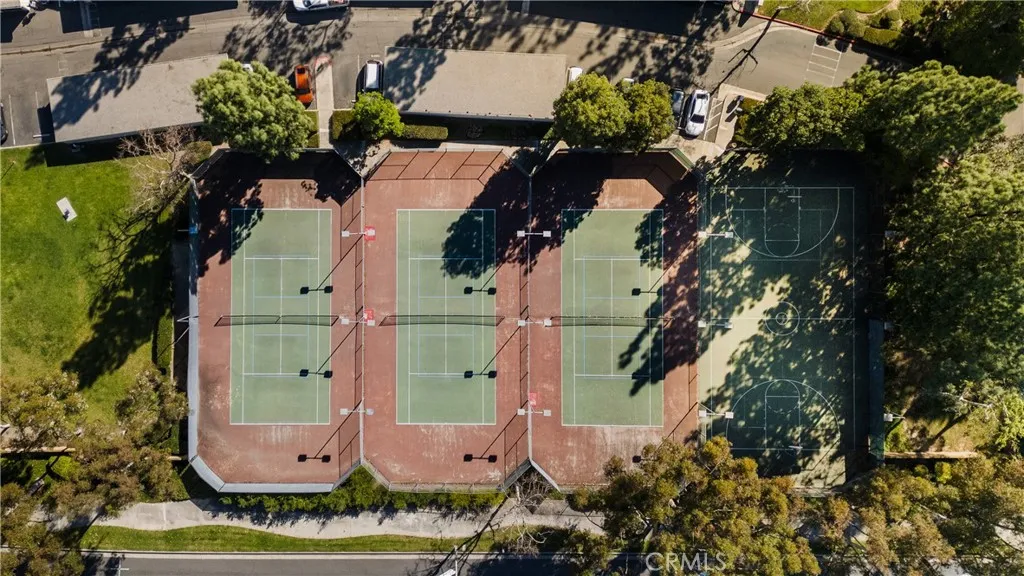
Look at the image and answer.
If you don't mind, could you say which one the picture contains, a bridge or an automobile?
automobile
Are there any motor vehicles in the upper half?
Yes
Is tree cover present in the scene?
Yes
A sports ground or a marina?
sports ground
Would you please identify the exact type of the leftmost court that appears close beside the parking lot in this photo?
tennis court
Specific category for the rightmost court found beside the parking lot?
basketball court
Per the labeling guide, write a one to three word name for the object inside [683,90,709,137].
car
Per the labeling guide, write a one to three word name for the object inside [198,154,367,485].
tennis court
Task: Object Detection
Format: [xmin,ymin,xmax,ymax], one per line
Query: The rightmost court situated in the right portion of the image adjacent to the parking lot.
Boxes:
[697,153,870,487]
